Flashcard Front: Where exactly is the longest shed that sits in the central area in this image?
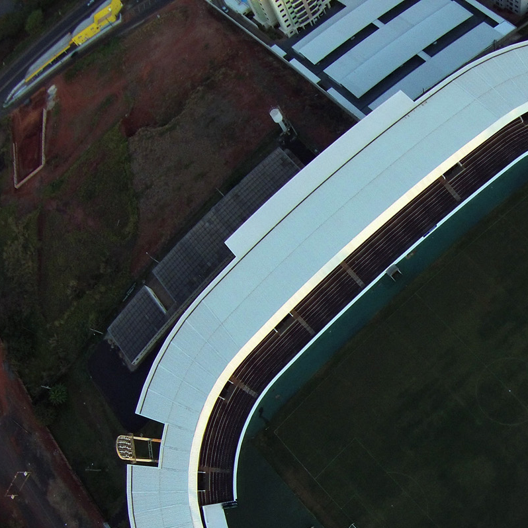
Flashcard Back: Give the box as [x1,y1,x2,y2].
[153,147,304,310]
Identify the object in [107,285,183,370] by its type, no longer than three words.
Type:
shed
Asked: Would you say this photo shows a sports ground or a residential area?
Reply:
sports ground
